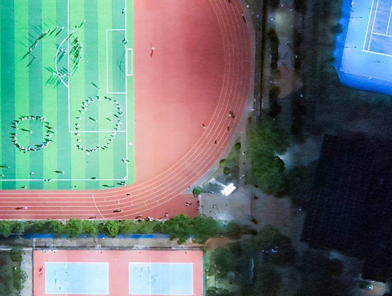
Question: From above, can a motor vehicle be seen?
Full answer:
No, the picture doesn't show any motor vehicle.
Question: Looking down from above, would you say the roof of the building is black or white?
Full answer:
In this view, the roof of the building is black.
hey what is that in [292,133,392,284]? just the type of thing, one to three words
building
